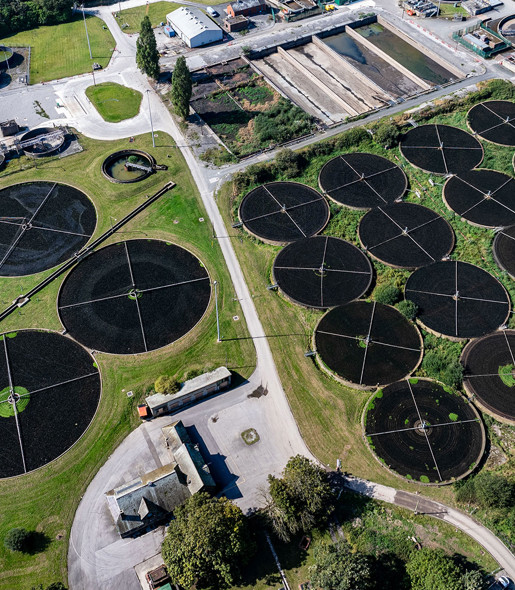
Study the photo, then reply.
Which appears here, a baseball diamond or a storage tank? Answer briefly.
storage tank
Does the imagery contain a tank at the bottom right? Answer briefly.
No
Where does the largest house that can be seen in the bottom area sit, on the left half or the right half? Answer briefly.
left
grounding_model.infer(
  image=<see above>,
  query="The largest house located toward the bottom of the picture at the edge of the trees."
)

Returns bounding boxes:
[107,421,213,541]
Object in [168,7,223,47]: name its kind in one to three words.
shed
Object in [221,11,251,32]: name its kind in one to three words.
building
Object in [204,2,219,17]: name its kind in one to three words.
vehicle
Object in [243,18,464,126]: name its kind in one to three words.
storage tank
